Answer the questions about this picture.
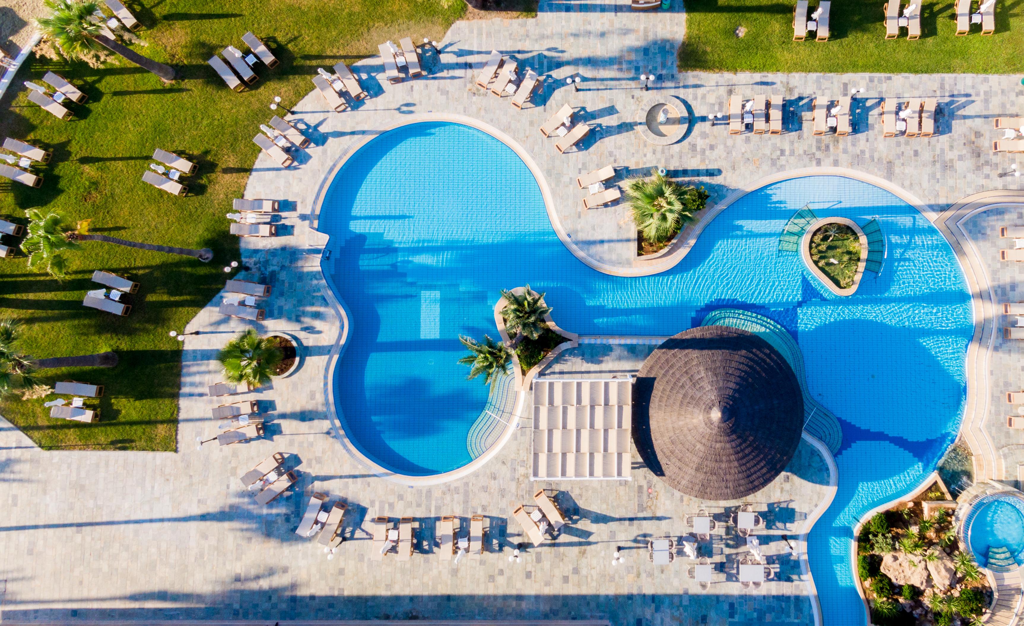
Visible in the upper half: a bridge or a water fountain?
water fountain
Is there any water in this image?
Yes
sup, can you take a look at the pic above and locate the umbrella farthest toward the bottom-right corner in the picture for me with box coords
[742,535,763,561]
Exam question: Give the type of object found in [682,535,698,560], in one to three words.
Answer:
umbrella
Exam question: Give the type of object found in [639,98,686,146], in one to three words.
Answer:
fountain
